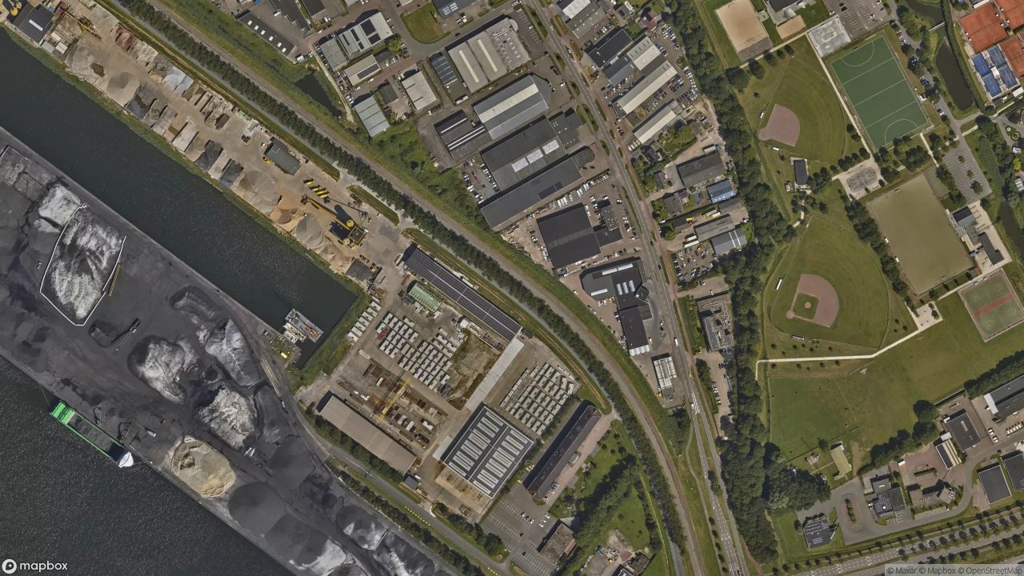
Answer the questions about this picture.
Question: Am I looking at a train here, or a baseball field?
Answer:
baseball field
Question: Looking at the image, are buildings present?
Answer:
Yes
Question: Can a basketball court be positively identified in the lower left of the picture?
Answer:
No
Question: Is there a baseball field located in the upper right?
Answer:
Yes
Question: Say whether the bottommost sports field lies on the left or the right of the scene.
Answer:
right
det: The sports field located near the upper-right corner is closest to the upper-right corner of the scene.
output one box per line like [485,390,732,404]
[827,32,933,153]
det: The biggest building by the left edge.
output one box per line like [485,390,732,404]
[12,3,55,47]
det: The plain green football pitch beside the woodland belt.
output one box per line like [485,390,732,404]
[769,377,859,463]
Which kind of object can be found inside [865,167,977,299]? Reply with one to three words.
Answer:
sports field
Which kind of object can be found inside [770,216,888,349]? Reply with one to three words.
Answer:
baseball field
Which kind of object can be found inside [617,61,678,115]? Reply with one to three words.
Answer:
building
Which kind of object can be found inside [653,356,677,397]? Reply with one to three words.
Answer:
gas station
